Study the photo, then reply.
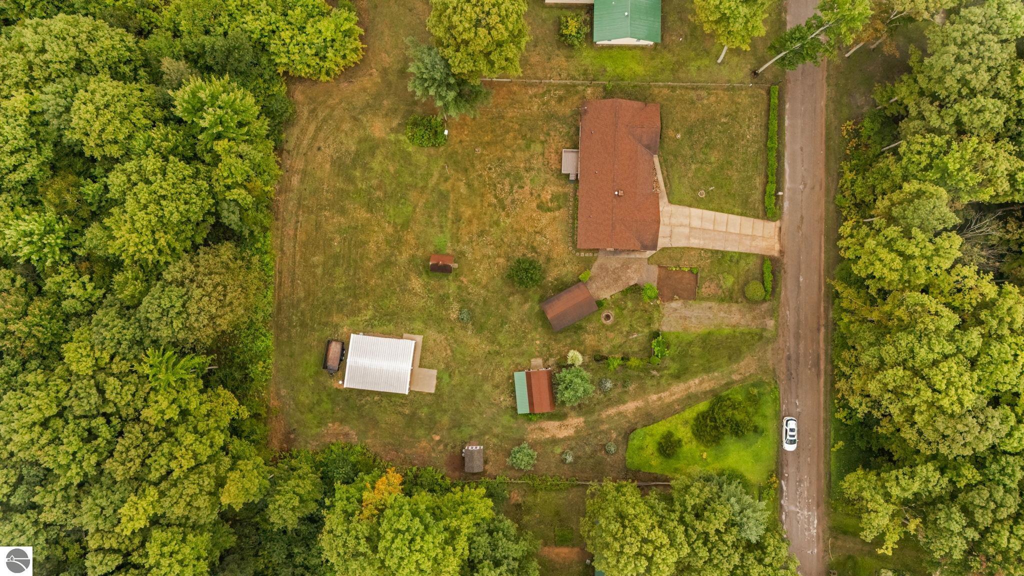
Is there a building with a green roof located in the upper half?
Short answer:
Yes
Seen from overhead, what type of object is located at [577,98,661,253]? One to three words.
house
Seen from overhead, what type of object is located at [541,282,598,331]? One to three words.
shed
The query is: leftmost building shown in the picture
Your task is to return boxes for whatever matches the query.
[343,334,418,394]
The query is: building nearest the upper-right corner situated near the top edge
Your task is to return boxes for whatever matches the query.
[594,0,661,45]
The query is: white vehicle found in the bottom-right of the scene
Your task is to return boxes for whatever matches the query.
[781,417,800,451]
